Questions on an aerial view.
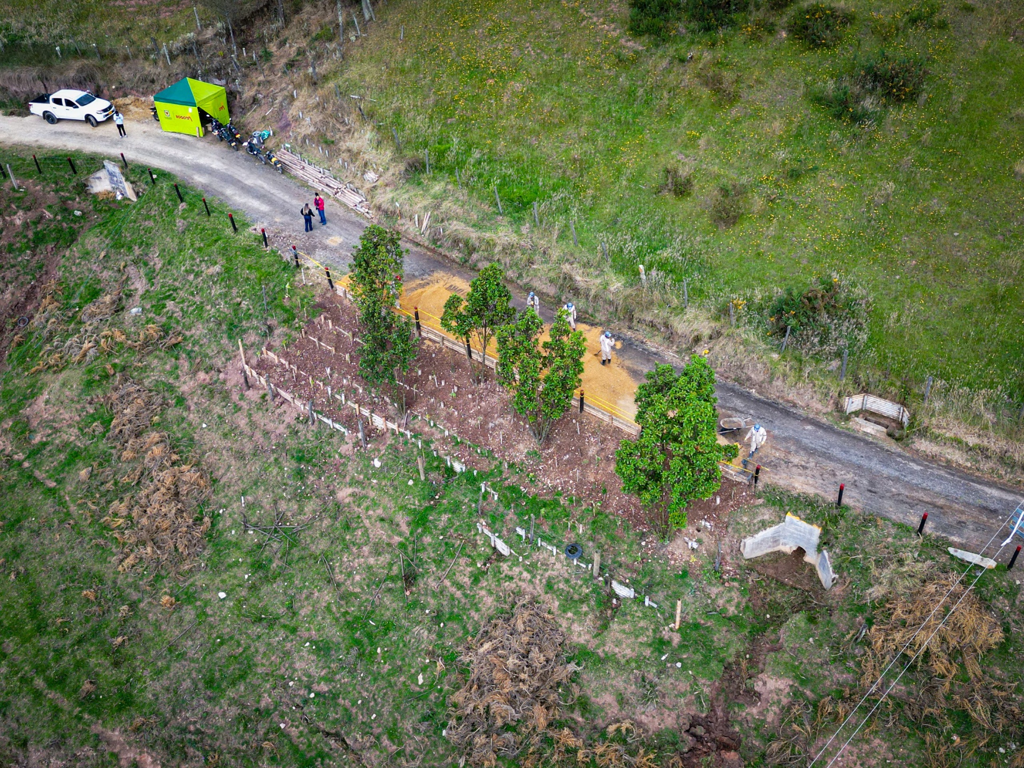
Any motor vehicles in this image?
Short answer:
Yes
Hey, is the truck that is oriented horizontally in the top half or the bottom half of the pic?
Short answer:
top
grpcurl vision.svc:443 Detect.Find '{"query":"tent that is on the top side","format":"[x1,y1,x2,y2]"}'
[154,78,231,140]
